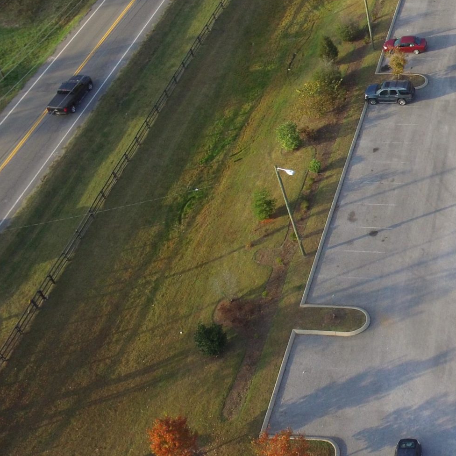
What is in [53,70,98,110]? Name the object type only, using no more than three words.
truck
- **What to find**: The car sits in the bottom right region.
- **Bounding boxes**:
[392,440,422,456]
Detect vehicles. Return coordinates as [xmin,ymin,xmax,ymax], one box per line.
[385,35,429,54]
[392,440,422,456]
[53,70,98,110]
[365,80,419,104]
